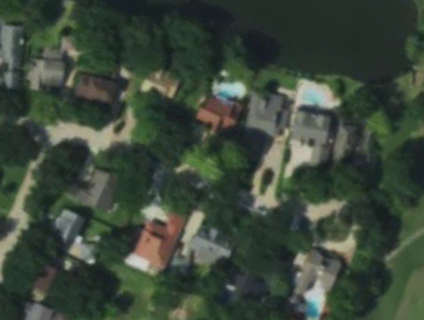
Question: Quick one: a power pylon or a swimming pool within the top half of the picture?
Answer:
swimming pool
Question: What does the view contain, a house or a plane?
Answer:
house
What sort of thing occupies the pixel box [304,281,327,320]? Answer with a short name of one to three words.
swimming pool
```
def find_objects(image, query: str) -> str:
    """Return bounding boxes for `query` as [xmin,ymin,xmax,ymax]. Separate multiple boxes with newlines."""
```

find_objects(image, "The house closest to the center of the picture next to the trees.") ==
[199,94,240,135]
